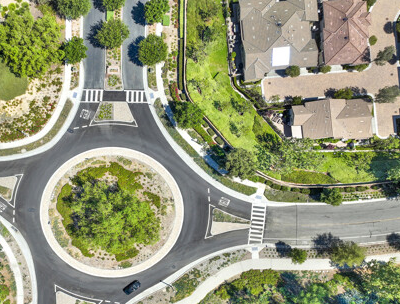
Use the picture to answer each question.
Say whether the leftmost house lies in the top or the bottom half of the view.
top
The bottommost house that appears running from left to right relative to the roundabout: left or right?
on the right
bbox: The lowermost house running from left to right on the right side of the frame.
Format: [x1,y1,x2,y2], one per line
[290,99,373,139]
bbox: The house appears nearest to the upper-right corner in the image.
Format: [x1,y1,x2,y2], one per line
[319,0,371,66]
